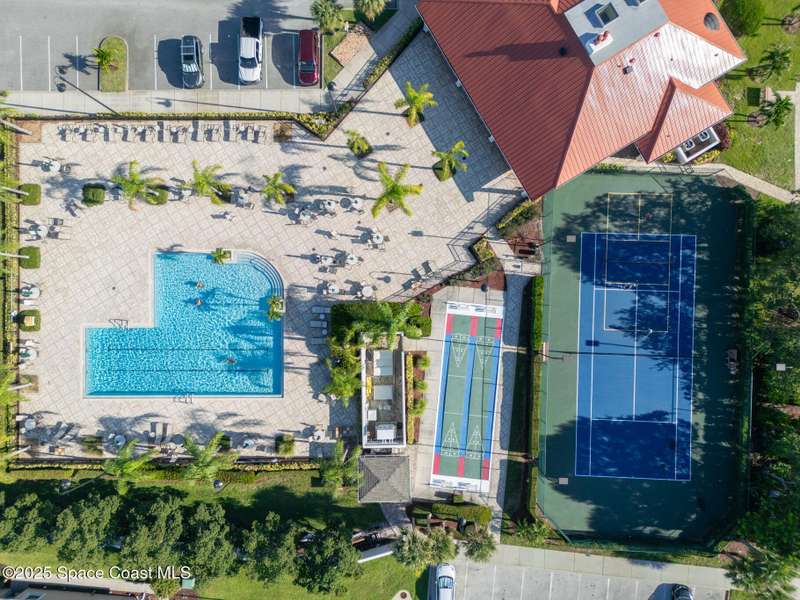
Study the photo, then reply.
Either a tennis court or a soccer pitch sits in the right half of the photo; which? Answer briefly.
tennis court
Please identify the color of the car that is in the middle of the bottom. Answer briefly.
white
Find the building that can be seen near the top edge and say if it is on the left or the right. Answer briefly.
right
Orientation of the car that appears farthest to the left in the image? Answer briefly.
vertically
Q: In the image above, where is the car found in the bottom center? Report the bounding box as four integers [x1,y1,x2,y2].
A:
[434,561,458,600]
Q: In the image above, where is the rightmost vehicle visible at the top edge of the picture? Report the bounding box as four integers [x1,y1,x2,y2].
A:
[295,29,321,88]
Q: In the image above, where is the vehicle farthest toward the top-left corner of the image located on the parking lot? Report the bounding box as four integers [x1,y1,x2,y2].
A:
[177,34,204,90]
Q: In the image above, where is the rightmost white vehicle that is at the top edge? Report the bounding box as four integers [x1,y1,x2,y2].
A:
[237,16,263,84]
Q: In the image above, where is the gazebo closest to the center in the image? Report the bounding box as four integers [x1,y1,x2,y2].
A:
[359,450,411,503]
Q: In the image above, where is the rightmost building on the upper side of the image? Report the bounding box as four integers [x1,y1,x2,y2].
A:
[416,0,748,199]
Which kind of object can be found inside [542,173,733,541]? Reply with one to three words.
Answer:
tennis court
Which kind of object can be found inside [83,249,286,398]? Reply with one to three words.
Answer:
swimming pool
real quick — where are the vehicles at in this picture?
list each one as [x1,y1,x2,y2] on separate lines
[177,34,204,90]
[237,16,263,84]
[672,583,696,600]
[295,29,321,88]
[434,561,458,600]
